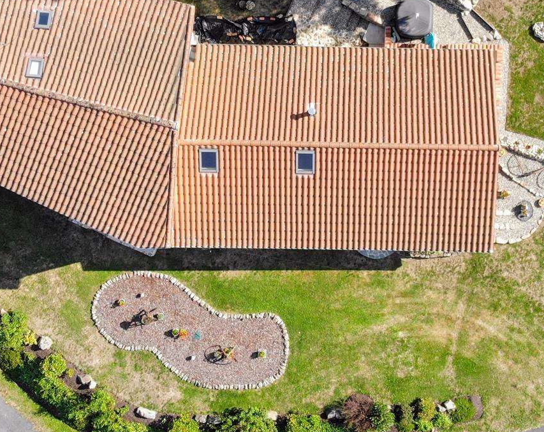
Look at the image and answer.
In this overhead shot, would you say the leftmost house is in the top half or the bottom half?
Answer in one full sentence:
It is in the top half that the leftmost house appears.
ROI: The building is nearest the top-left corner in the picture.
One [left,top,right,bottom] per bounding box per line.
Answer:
[0,0,206,250]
